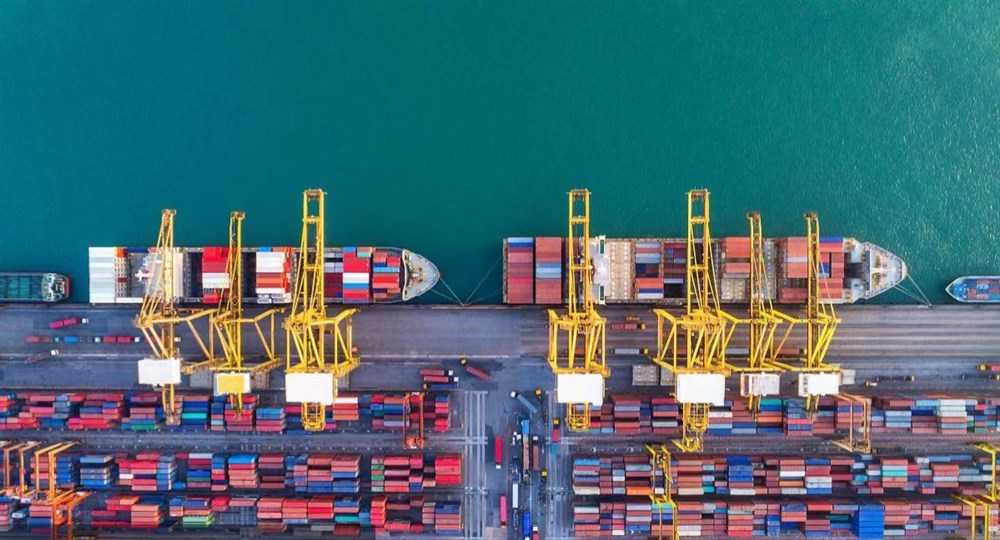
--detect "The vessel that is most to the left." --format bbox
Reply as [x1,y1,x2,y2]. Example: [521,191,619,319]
[0,272,73,304]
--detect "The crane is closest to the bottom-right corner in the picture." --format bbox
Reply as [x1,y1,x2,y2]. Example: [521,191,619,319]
[949,493,991,540]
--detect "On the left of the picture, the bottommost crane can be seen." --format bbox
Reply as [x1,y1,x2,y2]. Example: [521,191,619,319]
[52,490,95,540]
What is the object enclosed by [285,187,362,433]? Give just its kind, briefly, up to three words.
container crane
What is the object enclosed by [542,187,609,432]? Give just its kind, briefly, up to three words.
container crane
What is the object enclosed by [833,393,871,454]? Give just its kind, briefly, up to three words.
crane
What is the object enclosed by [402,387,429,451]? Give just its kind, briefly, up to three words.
crane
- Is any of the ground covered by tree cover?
No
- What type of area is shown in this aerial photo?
port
